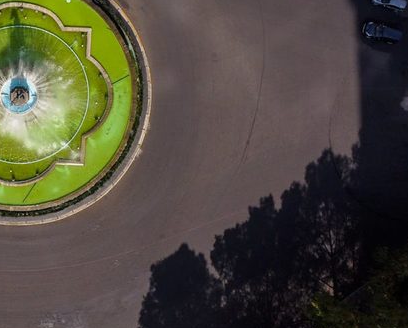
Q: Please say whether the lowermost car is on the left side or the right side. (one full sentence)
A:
The lowermost car appears in the right half of the scene.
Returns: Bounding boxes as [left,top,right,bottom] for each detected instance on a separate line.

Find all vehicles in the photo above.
[360,20,403,42]
[367,0,408,12]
